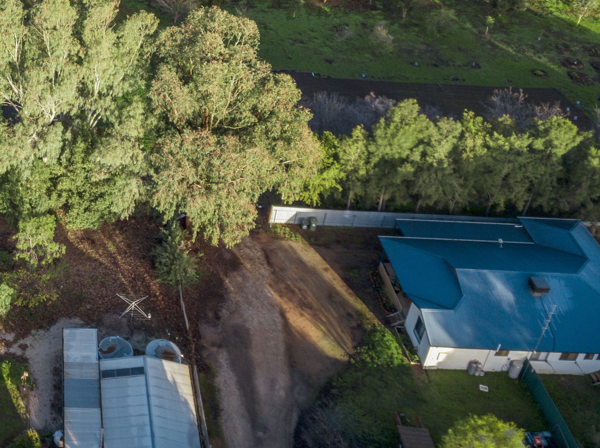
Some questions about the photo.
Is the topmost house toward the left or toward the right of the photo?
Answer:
right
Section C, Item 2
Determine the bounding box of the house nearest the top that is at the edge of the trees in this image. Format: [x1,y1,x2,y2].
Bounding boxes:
[372,216,600,376]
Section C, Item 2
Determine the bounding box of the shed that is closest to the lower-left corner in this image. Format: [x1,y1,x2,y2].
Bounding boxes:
[61,327,203,448]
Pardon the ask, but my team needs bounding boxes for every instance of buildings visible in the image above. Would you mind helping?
[61,327,203,448]
[372,216,600,376]
[382,412,433,448]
